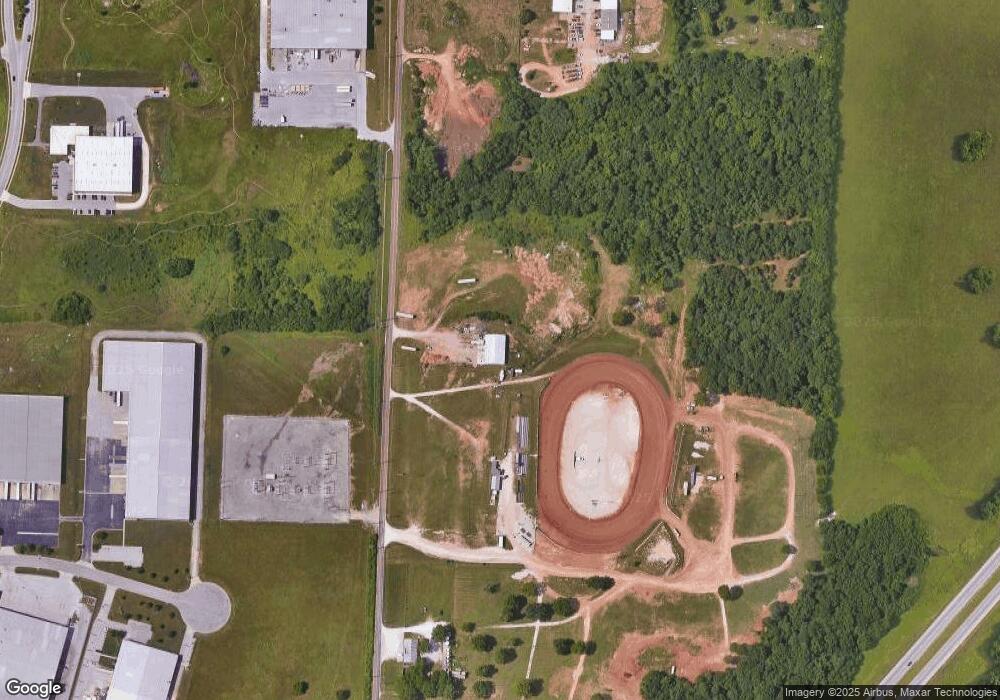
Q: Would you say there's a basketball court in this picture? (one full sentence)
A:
No, no basketball court is visible in the view.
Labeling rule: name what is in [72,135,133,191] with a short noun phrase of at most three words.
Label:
building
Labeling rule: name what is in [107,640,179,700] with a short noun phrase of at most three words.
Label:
building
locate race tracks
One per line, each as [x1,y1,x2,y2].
[537,351,674,556]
